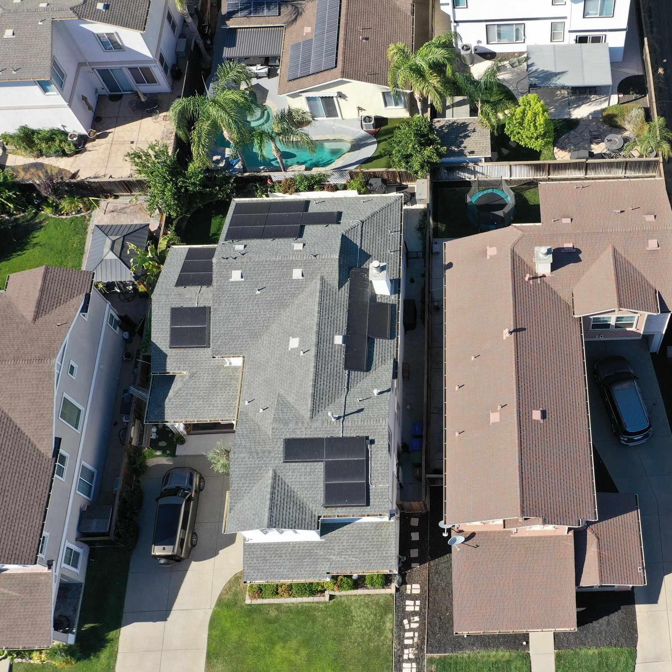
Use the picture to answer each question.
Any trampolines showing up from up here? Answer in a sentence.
Yes, the photo shows a trampoline.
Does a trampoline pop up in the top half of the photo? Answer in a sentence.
Yes, you'll find a trampoline in the top half of the photo.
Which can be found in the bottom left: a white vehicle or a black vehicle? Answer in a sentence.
Visible in the bottom left is a black vehicle.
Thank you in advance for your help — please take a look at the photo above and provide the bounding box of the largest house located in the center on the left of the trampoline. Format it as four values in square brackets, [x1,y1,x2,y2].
[142,194,405,586]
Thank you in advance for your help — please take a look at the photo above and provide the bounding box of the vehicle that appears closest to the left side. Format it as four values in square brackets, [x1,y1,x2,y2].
[144,467,202,565]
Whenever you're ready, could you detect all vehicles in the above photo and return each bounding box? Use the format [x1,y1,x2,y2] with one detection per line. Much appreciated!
[596,358,652,446]
[144,467,202,565]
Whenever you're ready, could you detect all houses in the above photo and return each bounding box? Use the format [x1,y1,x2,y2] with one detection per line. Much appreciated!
[142,194,405,586]
[0,265,121,653]
[440,0,639,62]
[0,0,191,134]
[221,0,415,120]
[442,177,672,638]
